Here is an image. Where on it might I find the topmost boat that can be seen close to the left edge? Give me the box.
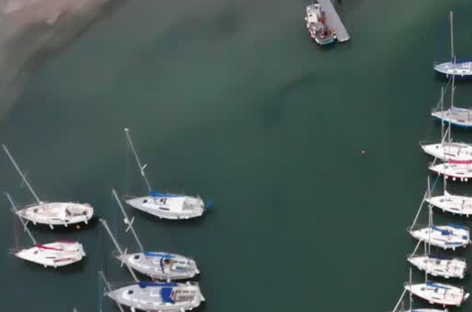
[1,144,96,226]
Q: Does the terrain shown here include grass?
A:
No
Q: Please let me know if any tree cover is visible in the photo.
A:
No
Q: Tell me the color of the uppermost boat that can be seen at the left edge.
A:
white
